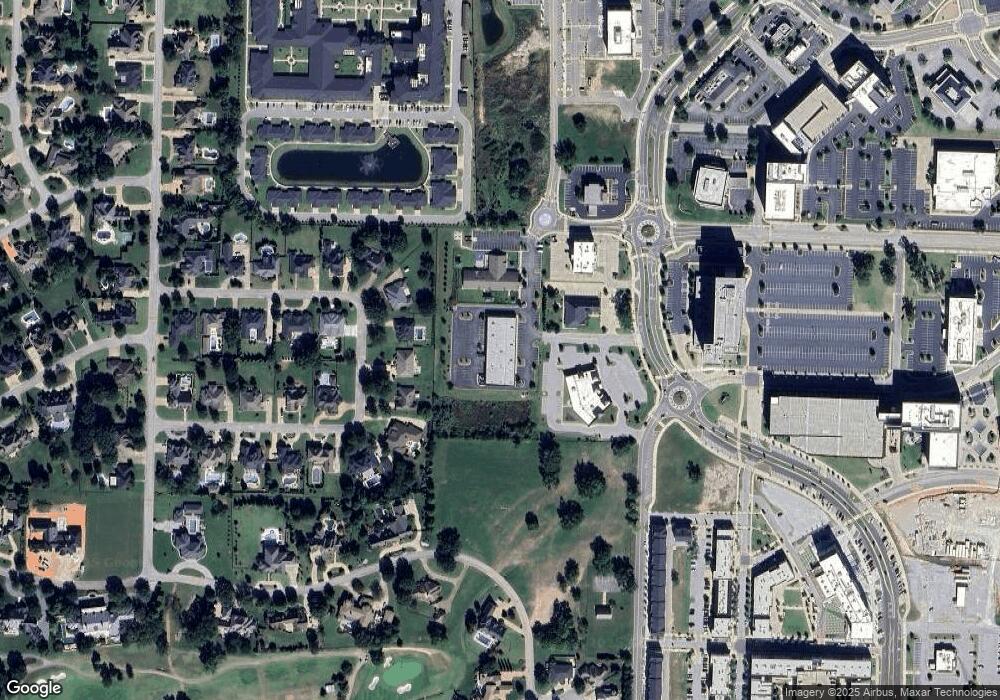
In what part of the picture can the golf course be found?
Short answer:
bottom left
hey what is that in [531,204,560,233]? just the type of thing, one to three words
roundabout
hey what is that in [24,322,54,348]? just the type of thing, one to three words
house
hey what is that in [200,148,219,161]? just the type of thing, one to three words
swimming pool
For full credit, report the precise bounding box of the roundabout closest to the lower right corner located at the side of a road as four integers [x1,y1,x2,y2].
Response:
[660,378,700,418]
